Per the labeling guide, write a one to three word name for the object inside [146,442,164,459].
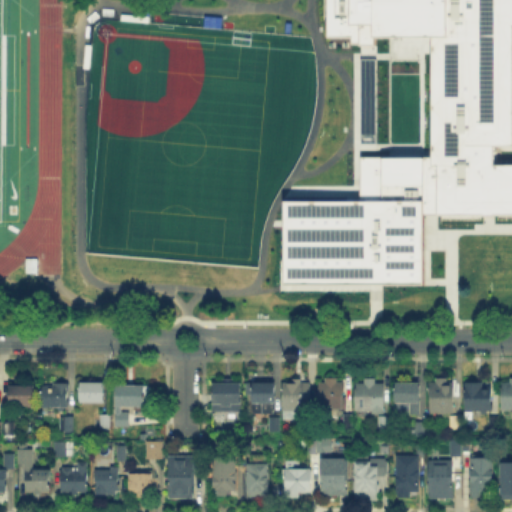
building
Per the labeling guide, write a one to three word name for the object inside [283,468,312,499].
house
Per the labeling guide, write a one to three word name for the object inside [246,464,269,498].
house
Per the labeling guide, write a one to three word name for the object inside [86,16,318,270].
baseball field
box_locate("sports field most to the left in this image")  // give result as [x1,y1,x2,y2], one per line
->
[0,0,39,249]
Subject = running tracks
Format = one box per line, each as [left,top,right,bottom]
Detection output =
[0,0,66,276]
